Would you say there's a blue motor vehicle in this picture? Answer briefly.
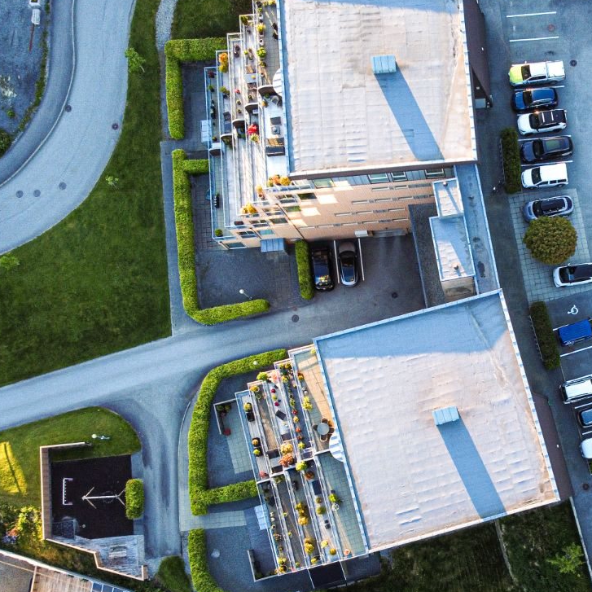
Yes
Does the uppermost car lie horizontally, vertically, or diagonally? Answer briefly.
horizontally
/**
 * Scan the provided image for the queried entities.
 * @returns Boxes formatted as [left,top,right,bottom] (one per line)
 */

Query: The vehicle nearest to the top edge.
[511,58,565,86]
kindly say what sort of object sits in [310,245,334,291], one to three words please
car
